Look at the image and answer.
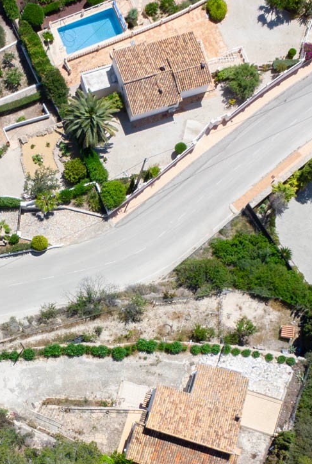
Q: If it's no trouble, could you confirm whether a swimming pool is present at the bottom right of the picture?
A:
No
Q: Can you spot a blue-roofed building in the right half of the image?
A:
No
